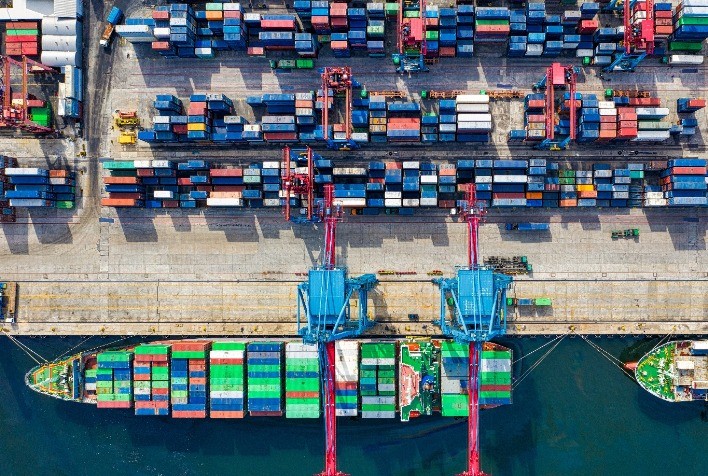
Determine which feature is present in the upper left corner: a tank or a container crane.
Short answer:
container crane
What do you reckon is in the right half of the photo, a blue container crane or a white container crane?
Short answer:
blue container crane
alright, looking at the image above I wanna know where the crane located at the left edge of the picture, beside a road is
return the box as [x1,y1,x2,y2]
[0,53,68,132]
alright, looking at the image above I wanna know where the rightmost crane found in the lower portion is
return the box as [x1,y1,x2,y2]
[427,183,511,476]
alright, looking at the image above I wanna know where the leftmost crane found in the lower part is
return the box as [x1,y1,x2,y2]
[292,183,384,476]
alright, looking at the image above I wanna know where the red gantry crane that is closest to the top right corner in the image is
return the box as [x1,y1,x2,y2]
[602,0,658,73]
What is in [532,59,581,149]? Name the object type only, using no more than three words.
container crane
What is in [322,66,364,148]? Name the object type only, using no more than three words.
container crane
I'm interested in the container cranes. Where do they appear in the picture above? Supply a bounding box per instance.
[532,59,581,149]
[292,183,384,476]
[0,53,68,132]
[281,144,327,222]
[322,66,364,148]
[395,0,431,65]
[427,183,511,476]
[602,0,658,73]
